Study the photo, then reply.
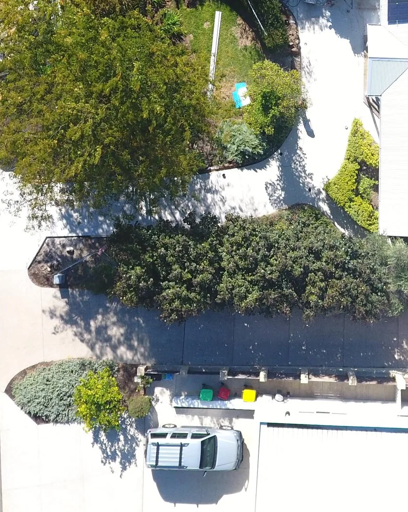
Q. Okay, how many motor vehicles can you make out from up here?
1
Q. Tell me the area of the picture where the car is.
bottom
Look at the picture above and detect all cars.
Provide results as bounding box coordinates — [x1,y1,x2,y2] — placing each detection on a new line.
[146,419,250,474]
